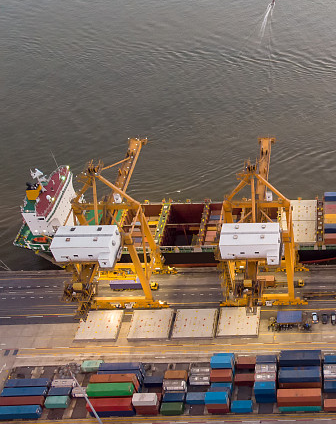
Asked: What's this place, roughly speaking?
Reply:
port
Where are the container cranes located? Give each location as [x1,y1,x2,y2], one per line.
[51,138,185,317]
[208,136,316,314]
